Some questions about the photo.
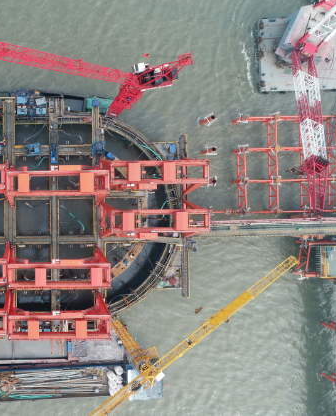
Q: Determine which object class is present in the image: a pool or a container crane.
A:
container crane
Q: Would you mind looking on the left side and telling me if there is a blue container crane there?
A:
No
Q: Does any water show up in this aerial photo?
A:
Yes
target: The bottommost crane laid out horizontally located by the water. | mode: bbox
[7,293,112,342]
